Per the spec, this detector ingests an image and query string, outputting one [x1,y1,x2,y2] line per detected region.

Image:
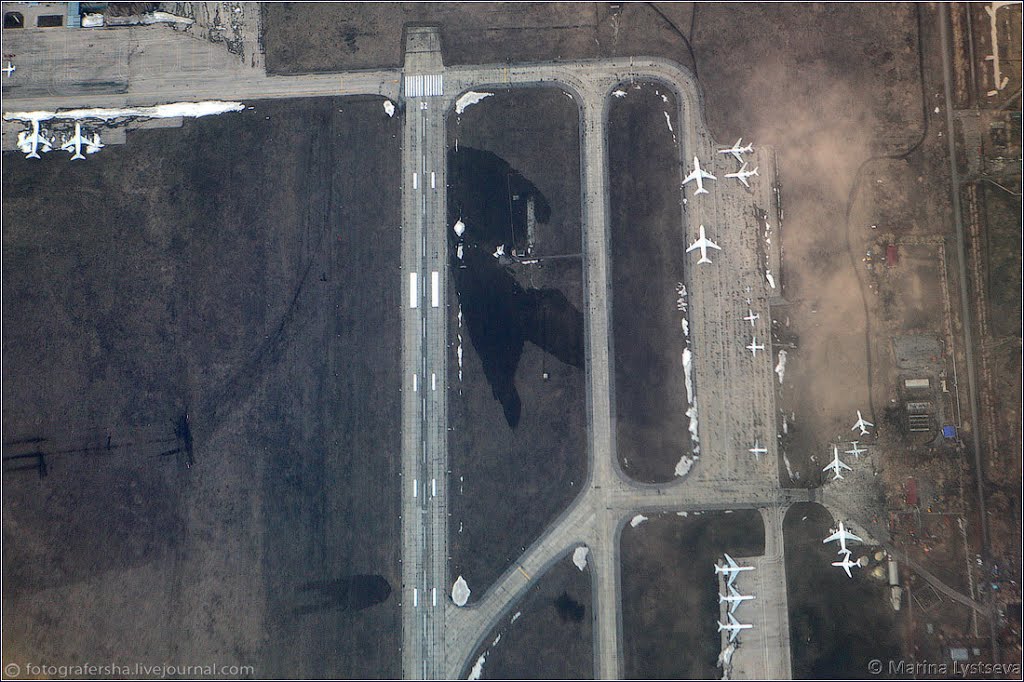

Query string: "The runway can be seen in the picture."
[402,26,447,682]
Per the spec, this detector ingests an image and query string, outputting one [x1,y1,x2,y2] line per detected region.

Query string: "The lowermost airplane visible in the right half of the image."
[717,612,753,641]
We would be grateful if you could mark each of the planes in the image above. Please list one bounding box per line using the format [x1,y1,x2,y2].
[17,119,50,159]
[832,553,863,576]
[719,137,754,162]
[852,410,874,436]
[61,121,95,160]
[744,309,759,326]
[749,439,767,461]
[725,162,760,187]
[718,584,756,611]
[746,337,764,357]
[717,612,753,641]
[682,156,717,194]
[823,445,852,480]
[714,553,755,585]
[845,442,867,458]
[686,225,721,263]
[824,521,864,555]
